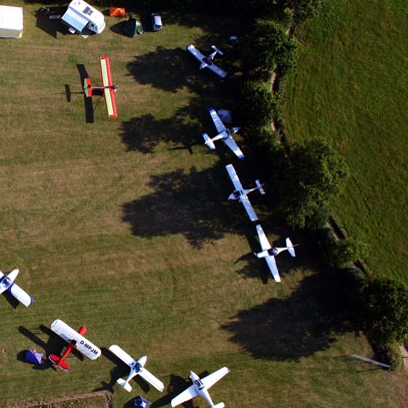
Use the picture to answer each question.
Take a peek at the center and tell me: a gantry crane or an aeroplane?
aeroplane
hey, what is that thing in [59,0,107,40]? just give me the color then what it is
white camper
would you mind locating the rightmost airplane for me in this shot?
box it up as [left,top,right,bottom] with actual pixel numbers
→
[249,222,302,283]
